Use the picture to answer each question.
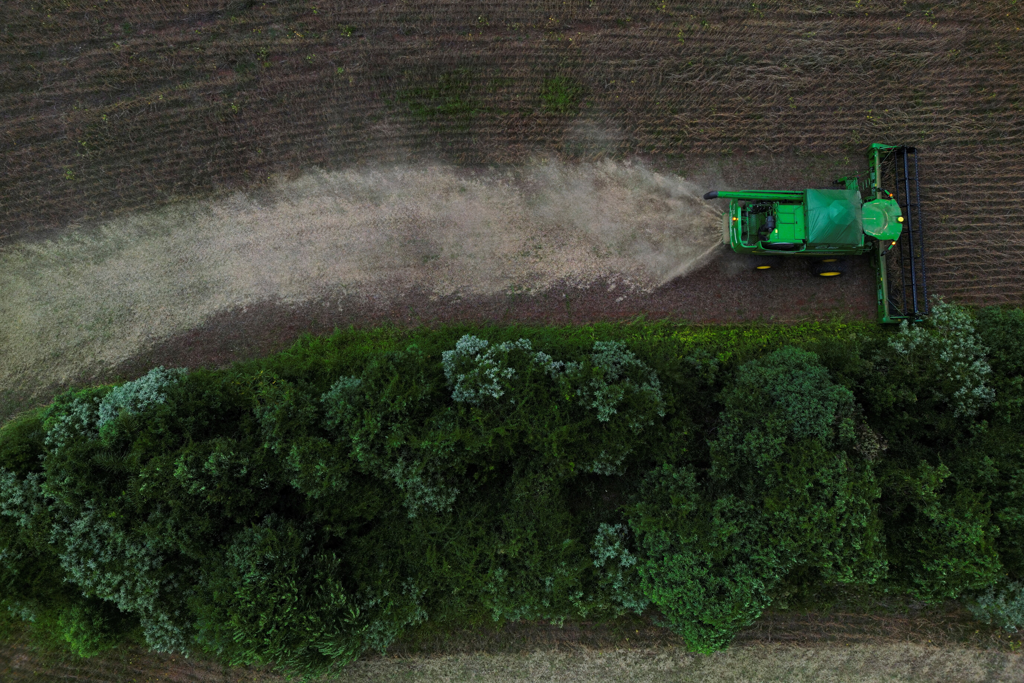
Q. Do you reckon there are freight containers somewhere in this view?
No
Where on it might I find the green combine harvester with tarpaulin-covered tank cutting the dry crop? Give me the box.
[702,143,928,327]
